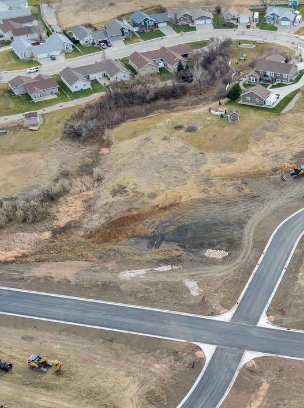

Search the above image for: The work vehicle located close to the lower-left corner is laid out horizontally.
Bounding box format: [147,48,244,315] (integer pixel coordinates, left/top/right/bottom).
[24,357,65,375]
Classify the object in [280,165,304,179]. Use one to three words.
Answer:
work vehicle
